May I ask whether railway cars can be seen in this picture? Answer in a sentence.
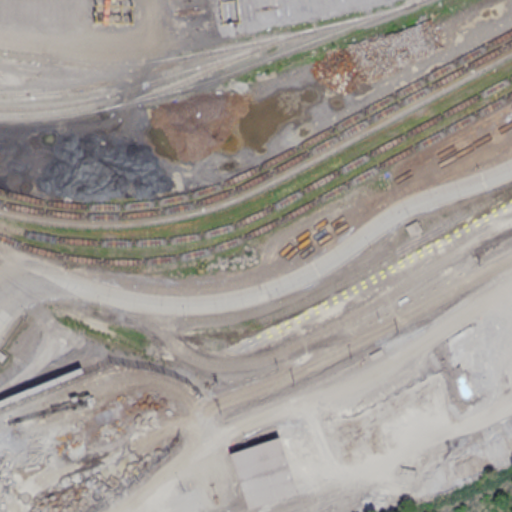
Yes, I can see a railway car in this picture.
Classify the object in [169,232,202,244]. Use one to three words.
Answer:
rail car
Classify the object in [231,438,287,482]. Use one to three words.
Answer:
building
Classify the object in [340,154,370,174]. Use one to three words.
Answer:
rail car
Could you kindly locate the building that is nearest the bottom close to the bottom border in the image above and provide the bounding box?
[240,468,296,508]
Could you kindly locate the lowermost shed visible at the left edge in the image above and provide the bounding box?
[0,369,84,408]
